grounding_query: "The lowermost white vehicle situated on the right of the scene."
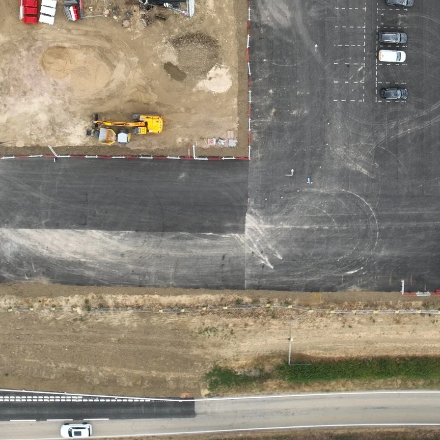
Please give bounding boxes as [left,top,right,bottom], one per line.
[378,50,405,64]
